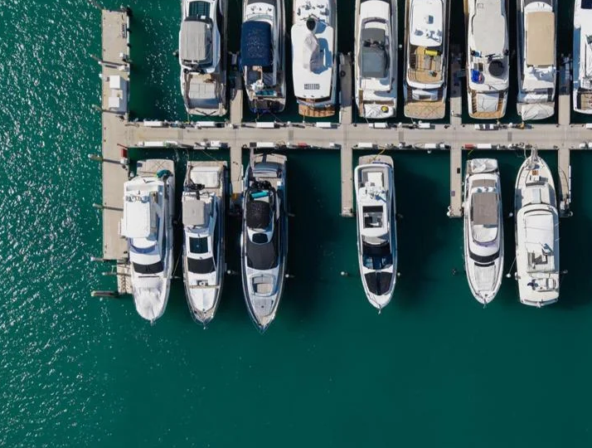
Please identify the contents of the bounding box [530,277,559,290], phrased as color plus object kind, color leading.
white boat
